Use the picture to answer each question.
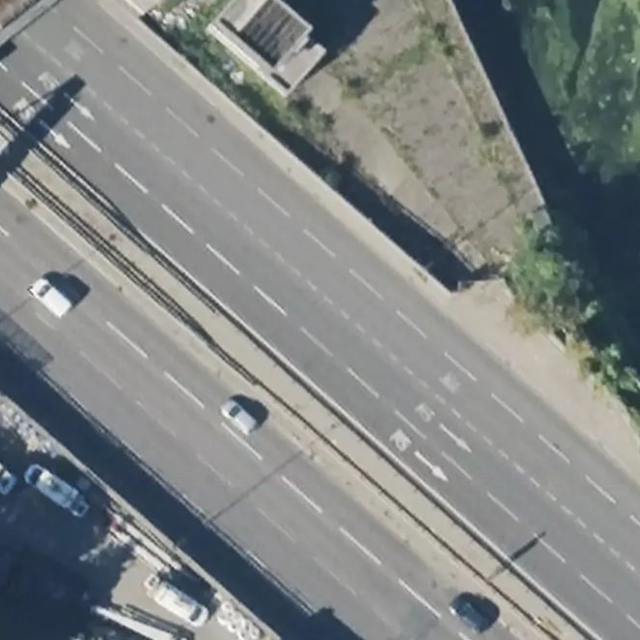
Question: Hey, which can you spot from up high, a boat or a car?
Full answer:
This aerial view contains a car.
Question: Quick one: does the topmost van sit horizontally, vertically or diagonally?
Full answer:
The topmost van is laid out diagonally.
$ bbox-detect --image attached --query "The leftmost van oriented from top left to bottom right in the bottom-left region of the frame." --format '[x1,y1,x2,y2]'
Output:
[25,463,91,519]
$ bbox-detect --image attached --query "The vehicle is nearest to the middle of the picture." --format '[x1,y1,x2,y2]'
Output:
[219,395,263,436]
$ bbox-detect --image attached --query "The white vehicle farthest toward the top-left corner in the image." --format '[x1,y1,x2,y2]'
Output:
[28,274,78,321]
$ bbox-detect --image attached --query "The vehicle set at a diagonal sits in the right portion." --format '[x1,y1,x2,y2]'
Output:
[453,591,497,634]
